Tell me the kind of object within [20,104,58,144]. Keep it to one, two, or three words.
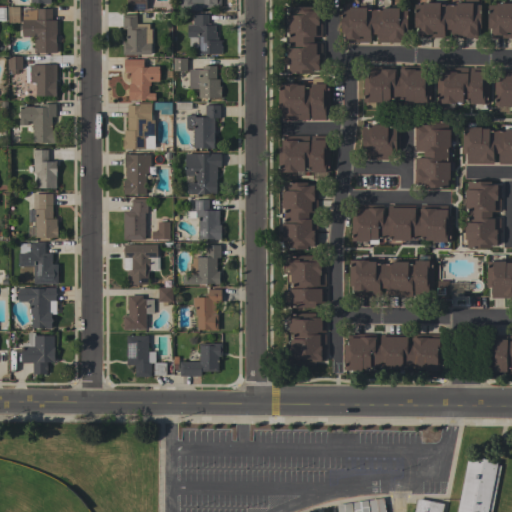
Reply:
house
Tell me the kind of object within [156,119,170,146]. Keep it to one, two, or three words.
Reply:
swimming pool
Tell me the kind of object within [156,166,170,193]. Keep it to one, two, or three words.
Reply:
swimming pool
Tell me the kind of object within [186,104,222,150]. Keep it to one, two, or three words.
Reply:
house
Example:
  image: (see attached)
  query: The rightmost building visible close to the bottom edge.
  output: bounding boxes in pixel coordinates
[459,460,502,512]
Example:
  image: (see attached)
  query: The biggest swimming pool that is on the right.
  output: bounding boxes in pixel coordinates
[448,260,475,278]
